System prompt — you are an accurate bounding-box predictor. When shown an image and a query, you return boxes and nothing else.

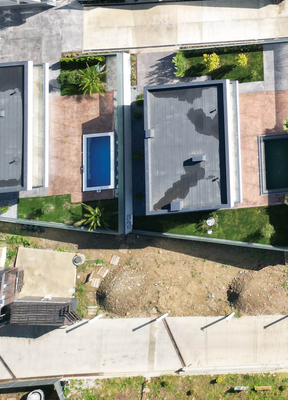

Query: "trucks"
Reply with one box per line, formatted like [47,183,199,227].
[25,377,57,400]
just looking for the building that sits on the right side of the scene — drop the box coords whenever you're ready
[143,80,242,215]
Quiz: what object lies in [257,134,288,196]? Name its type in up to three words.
swimming pool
